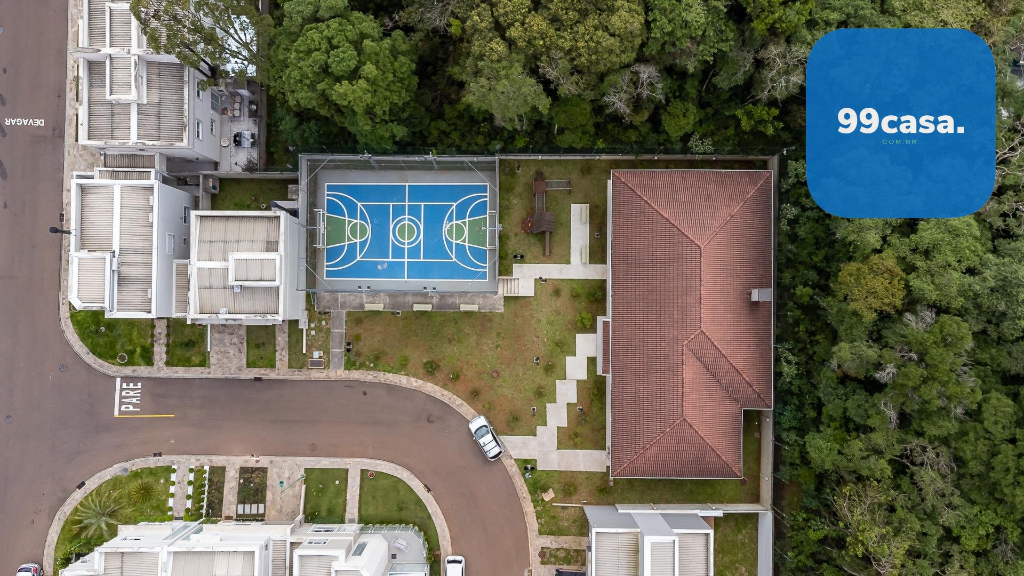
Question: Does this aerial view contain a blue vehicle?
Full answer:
No, no blue vehicle can be seen from above.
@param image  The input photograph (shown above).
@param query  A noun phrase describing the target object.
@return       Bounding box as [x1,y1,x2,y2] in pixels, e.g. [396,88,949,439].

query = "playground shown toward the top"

[521,171,571,255]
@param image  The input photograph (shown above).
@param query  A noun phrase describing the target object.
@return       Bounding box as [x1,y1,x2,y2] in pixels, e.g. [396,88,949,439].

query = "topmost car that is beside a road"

[469,413,504,463]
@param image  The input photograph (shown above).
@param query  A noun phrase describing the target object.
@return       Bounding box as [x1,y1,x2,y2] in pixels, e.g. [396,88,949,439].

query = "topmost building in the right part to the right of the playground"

[595,169,776,479]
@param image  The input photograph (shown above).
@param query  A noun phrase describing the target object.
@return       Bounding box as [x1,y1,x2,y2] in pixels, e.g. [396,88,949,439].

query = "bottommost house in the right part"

[580,504,714,576]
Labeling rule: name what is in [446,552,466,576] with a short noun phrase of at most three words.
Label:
car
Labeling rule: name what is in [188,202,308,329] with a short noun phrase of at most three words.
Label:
house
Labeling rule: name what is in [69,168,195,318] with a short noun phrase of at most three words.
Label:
house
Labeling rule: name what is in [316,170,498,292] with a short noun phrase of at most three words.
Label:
sports court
